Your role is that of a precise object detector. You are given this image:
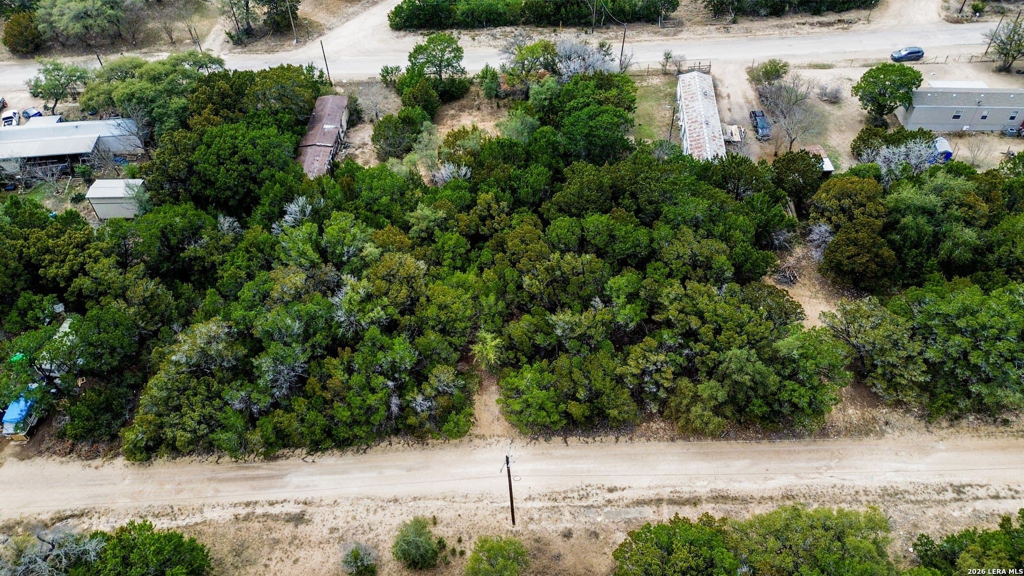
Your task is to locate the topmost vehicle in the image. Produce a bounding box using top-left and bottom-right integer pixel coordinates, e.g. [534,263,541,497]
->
[888,42,929,61]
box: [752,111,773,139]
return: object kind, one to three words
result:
truck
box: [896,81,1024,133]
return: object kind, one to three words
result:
house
